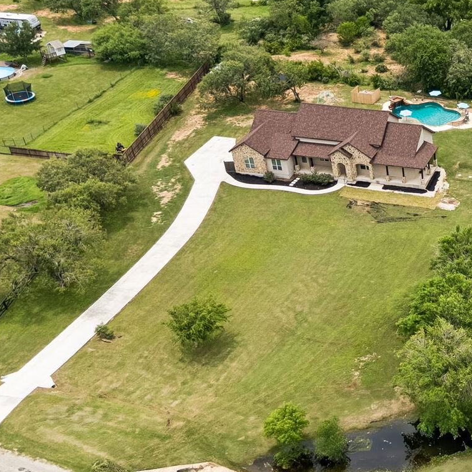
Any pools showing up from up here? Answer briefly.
Yes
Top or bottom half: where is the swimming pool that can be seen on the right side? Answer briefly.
top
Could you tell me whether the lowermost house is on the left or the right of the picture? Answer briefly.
right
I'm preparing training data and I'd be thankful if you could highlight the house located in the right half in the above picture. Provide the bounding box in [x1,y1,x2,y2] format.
[225,103,438,191]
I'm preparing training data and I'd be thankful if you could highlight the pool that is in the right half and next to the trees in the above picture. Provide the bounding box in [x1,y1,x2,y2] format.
[378,89,463,126]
